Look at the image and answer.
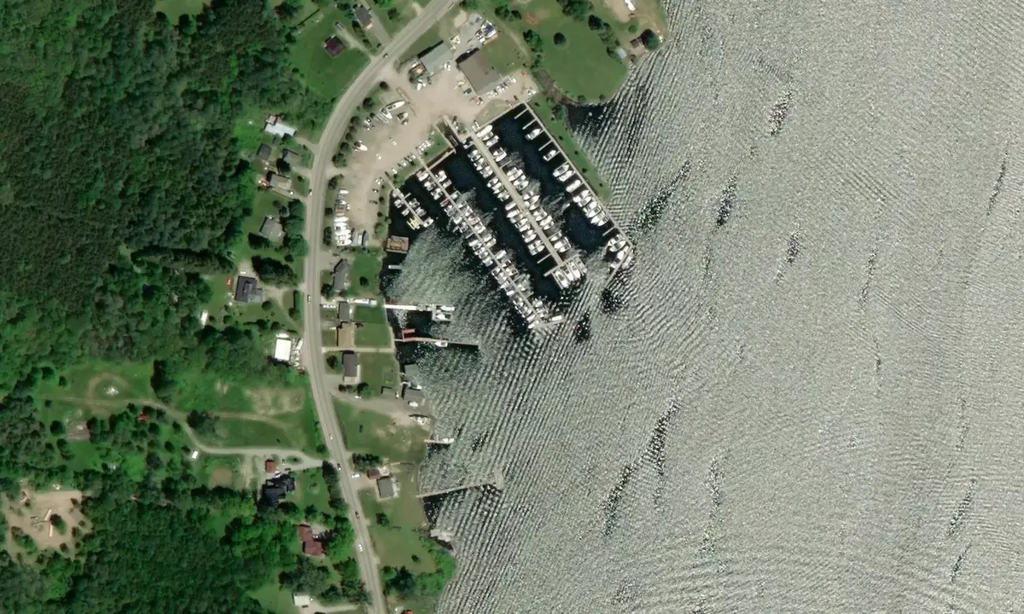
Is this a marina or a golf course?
marina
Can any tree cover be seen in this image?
Yes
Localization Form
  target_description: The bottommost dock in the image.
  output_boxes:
[416,470,504,498]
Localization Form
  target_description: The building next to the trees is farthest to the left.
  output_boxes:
[67,421,90,437]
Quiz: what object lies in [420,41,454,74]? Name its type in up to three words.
building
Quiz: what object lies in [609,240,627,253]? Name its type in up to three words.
boat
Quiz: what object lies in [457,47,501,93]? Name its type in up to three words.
shed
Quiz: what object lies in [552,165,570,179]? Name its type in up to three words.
boat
